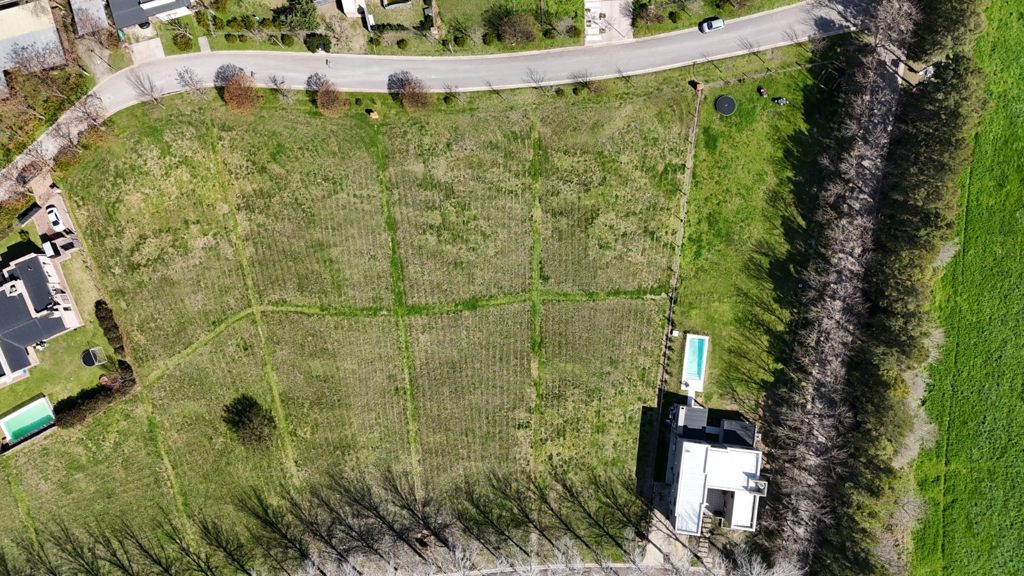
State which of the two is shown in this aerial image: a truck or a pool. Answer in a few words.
pool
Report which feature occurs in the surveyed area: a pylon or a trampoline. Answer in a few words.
trampoline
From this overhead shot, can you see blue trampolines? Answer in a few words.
No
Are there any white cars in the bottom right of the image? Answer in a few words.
No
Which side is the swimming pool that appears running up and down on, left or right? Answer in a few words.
right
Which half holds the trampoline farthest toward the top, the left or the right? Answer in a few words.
right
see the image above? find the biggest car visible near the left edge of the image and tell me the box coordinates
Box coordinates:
[45,205,67,233]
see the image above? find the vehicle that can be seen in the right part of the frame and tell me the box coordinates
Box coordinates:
[698,17,725,35]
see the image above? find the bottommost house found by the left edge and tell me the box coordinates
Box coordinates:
[0,253,81,383]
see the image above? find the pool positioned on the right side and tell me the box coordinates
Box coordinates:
[681,334,709,392]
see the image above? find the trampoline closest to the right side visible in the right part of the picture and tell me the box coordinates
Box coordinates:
[714,94,737,117]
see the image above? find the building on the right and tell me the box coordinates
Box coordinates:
[666,403,767,536]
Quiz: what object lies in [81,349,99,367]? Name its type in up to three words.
trampoline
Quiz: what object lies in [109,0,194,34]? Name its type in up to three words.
house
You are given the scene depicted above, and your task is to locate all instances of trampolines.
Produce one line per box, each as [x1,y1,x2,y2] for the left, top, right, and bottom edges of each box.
[714,94,737,117]
[81,349,99,367]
